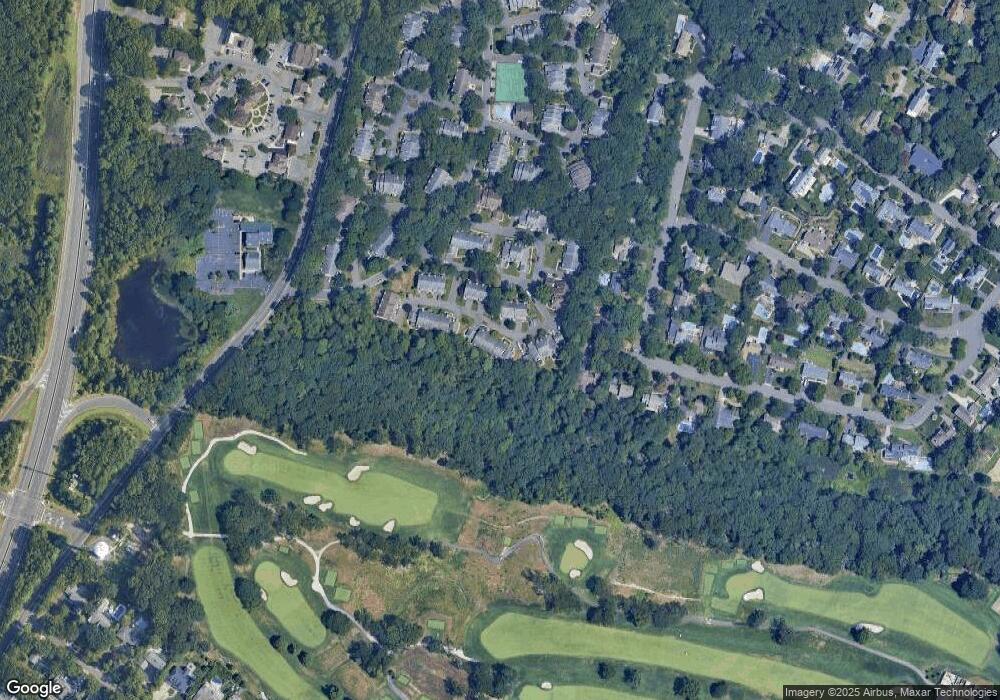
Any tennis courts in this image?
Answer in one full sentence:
Yes, you can see a tennis court in this photo.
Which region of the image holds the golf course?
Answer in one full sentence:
You can find the golf course in the bottom area of the picture.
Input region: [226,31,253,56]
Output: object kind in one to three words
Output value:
building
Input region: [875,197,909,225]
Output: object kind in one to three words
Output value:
house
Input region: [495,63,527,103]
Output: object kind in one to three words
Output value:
tennis court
